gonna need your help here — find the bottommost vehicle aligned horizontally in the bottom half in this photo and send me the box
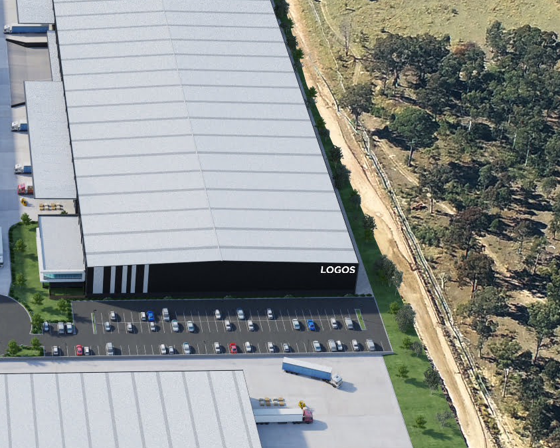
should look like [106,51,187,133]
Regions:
[256,408,315,424]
